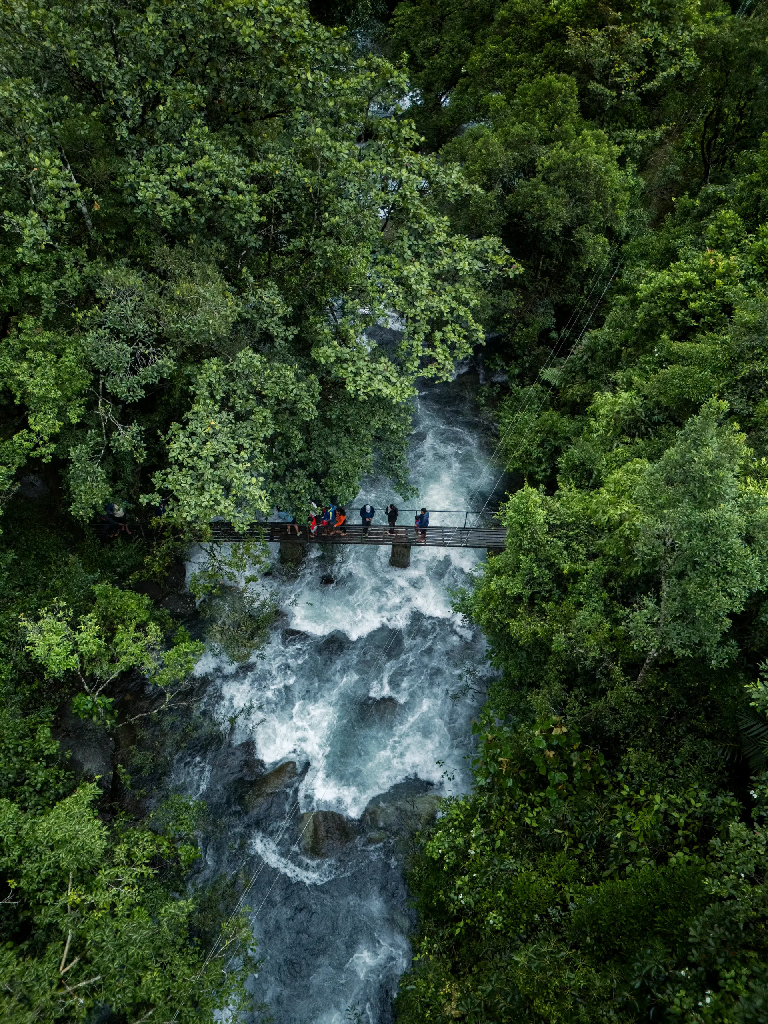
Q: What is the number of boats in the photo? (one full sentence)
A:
Not a single boat can be seen.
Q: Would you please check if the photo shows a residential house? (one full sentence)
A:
No, no residential house is visible in the view.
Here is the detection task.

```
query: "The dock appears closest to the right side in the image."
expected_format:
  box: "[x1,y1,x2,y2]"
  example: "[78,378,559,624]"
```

[390,551,410,573]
